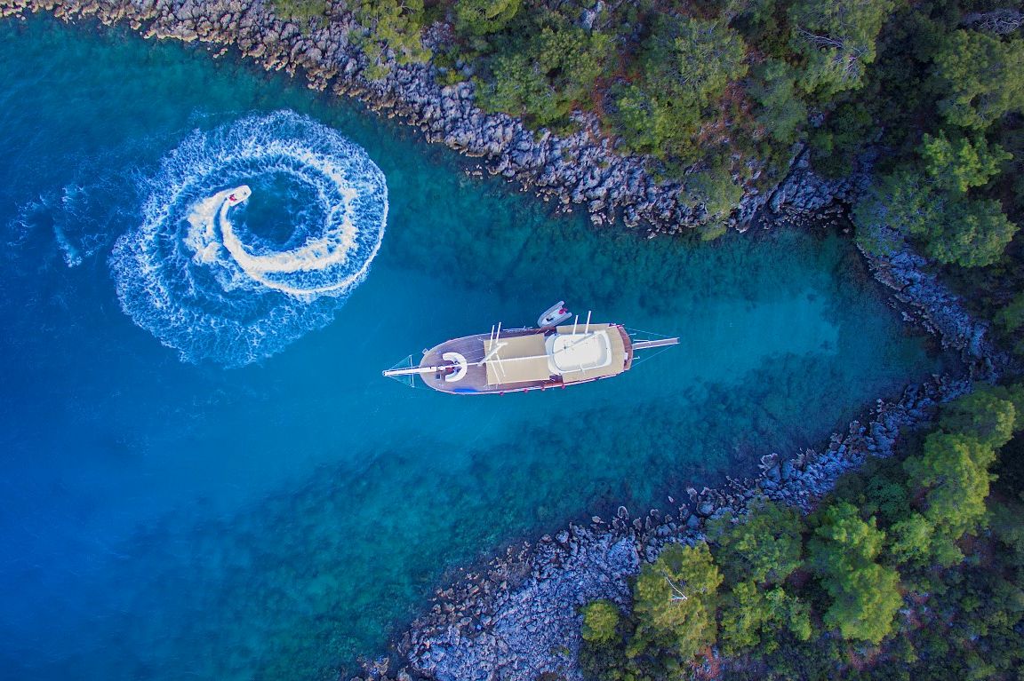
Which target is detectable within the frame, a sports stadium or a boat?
boat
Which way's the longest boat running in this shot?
from left to right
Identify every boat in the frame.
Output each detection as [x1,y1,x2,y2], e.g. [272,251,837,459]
[537,299,572,327]
[383,314,683,393]
[223,182,251,204]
